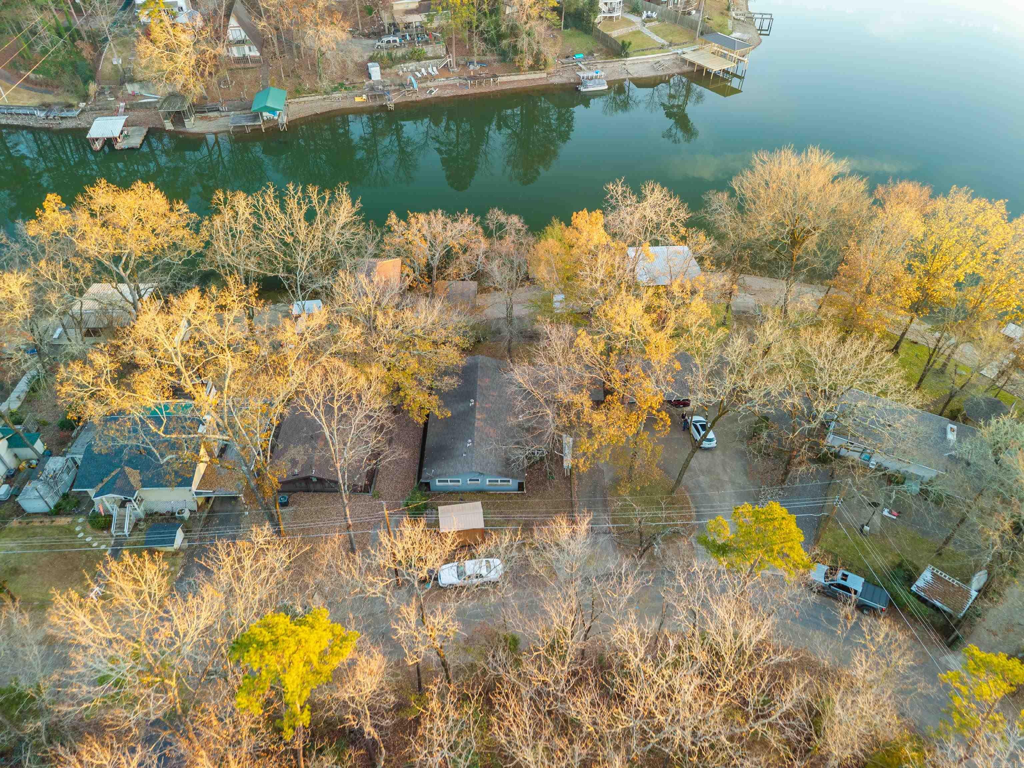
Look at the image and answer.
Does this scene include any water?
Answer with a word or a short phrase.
Yes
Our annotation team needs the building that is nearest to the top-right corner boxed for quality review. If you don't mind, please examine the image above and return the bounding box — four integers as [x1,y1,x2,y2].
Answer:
[700,29,754,73]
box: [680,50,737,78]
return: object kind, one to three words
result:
pier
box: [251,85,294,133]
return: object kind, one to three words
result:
building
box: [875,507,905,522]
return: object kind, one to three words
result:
work vehicle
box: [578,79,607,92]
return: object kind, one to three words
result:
boat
